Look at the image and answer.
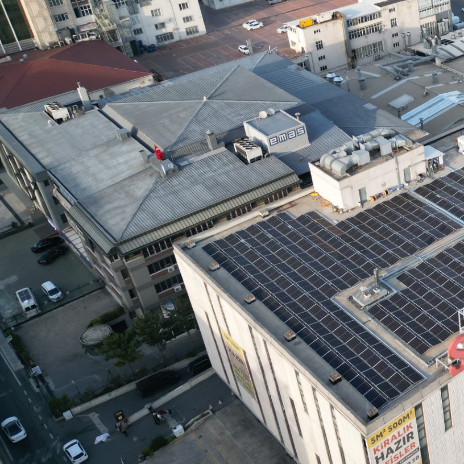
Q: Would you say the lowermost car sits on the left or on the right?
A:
left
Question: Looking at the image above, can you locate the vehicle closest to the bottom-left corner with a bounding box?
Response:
[0,413,26,443]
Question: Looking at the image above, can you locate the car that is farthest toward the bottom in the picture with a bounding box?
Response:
[61,435,90,464]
